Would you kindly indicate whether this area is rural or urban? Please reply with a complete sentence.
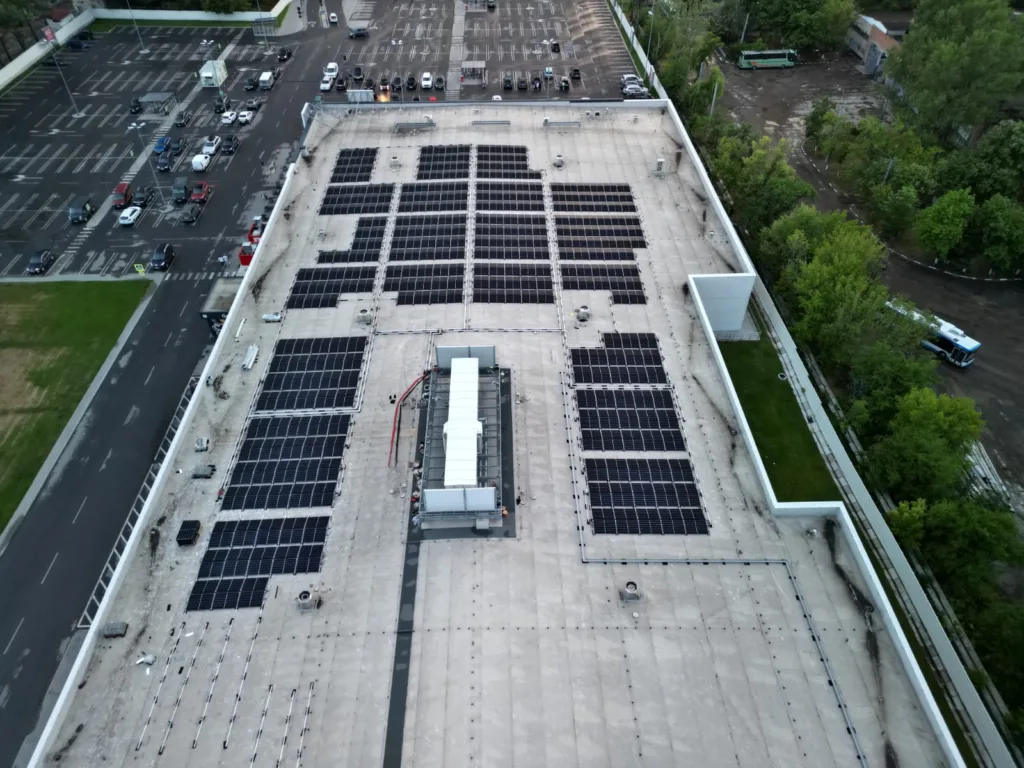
From above, the setting appears urban.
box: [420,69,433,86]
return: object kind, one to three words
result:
vehicle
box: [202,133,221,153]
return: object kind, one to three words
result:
car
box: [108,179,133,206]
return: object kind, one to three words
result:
vehicle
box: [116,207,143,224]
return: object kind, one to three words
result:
car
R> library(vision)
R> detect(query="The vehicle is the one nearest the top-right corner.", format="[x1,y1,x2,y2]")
[738,46,801,67]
